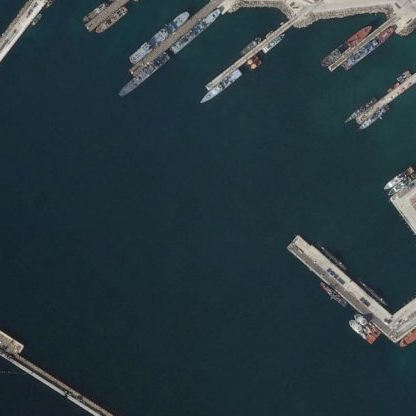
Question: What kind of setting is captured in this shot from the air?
port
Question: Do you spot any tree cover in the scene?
No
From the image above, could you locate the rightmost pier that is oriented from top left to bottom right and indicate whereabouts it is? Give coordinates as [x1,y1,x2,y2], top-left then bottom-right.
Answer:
[287,236,416,343]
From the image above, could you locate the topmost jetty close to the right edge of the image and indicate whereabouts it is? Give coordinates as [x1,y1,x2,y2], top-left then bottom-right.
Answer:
[327,14,400,72]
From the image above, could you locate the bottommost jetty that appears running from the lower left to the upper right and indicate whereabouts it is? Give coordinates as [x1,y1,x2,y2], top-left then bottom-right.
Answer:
[355,74,416,125]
